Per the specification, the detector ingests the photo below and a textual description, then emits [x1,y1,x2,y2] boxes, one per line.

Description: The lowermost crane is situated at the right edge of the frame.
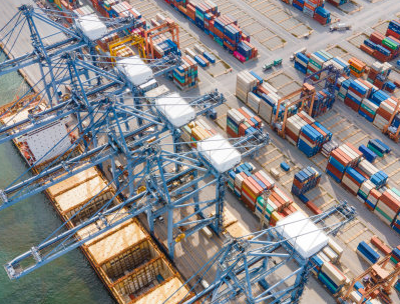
[329,253,392,304]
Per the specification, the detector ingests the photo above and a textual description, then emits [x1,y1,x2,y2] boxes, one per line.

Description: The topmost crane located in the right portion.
[291,66,334,113]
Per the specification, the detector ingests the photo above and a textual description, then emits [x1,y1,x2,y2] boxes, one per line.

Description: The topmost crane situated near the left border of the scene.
[0,0,141,107]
